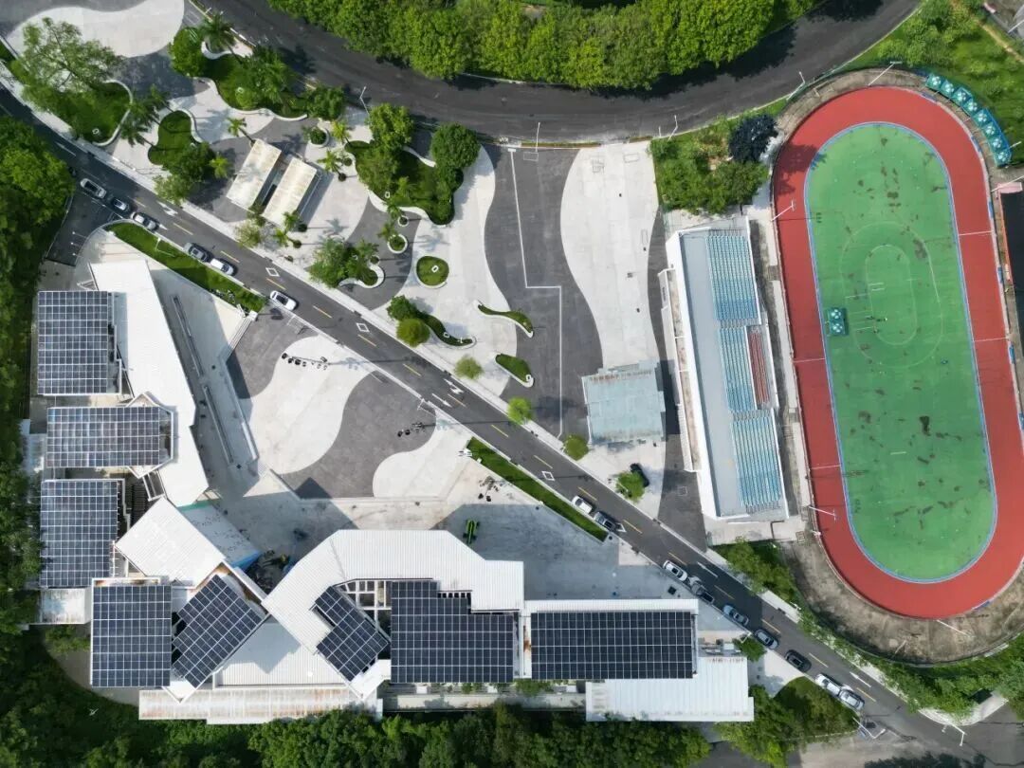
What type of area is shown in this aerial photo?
sports ground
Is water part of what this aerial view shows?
No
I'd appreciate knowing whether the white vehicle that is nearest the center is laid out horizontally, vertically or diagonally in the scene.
diagonally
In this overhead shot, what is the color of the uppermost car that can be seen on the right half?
black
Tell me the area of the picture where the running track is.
right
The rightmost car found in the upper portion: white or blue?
white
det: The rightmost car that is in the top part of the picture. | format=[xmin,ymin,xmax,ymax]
[268,289,295,311]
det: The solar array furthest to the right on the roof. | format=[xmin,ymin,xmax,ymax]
[531,611,691,679]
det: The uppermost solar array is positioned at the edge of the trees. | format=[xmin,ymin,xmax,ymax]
[35,291,112,394]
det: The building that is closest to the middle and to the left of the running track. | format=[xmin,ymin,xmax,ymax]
[581,360,666,444]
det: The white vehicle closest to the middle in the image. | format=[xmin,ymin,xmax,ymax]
[569,494,593,514]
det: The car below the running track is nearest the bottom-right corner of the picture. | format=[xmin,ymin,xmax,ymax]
[842,692,869,715]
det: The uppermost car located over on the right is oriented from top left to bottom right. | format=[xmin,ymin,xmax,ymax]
[629,460,653,486]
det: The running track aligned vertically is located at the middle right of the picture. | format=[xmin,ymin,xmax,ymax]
[768,81,1024,625]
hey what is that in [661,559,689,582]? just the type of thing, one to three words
car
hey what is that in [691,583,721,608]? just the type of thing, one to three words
truck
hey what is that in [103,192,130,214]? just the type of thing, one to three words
car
